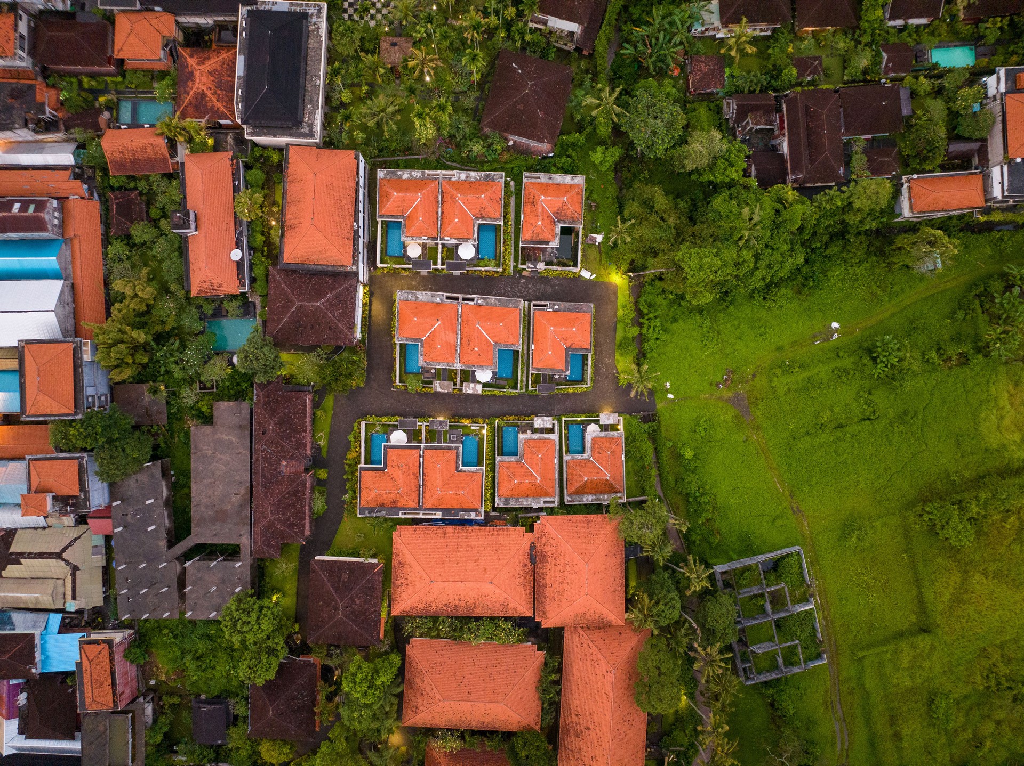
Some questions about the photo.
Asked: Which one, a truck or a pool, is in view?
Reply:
pool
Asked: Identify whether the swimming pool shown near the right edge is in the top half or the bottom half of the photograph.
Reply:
top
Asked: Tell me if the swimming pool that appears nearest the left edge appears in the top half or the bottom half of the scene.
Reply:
top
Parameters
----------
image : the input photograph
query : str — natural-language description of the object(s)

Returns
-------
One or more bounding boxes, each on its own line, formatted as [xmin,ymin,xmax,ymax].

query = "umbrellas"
[587,422,600,433]
[390,428,407,443]
[458,243,475,260]
[407,244,421,258]
[475,370,492,384]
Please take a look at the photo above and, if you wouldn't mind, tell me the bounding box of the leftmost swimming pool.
[114,97,177,127]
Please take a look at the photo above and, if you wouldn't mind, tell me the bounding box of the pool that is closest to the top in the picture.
[928,43,978,70]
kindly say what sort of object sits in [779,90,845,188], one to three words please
house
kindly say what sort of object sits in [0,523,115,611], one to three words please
building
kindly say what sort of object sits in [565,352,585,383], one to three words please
swimming pool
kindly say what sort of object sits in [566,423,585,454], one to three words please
swimming pool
